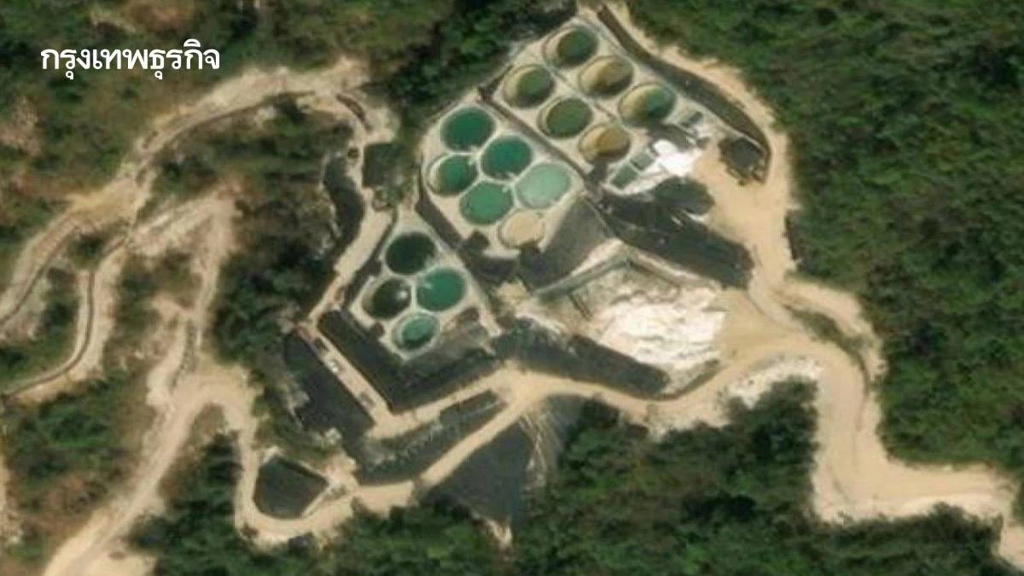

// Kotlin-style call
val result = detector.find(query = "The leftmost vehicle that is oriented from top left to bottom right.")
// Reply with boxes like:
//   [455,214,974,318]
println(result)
[313,336,326,352]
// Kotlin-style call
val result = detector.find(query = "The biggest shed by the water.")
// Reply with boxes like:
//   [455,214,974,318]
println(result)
[653,115,691,153]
